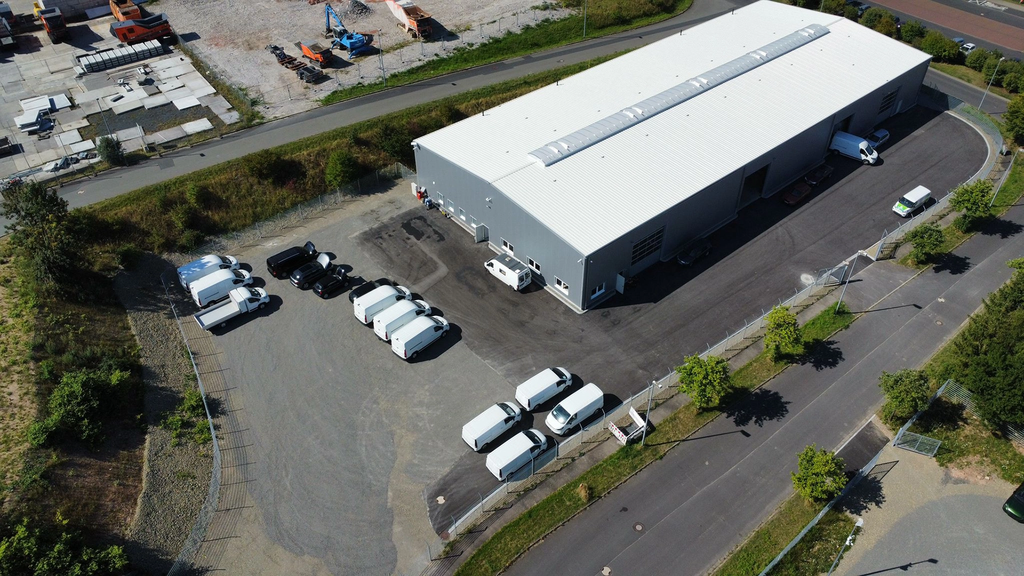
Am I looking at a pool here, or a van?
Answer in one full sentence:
Looking from above, you can make out a van.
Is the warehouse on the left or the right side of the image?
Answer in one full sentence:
The warehouse is on the right side of the image.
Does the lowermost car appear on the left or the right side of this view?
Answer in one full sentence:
The lowermost car sits on the right side.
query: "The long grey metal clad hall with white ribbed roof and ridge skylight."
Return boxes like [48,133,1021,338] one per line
[412,0,935,316]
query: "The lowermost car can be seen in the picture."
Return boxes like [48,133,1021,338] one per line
[1002,483,1024,518]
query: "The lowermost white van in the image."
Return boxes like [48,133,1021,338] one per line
[483,427,549,482]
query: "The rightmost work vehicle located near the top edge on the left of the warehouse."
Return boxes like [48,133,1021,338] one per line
[321,0,380,60]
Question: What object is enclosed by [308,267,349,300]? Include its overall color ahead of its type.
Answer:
black car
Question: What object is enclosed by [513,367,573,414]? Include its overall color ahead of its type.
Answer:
white van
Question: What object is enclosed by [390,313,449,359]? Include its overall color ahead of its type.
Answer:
white van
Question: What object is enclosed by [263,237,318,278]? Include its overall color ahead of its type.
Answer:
black van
